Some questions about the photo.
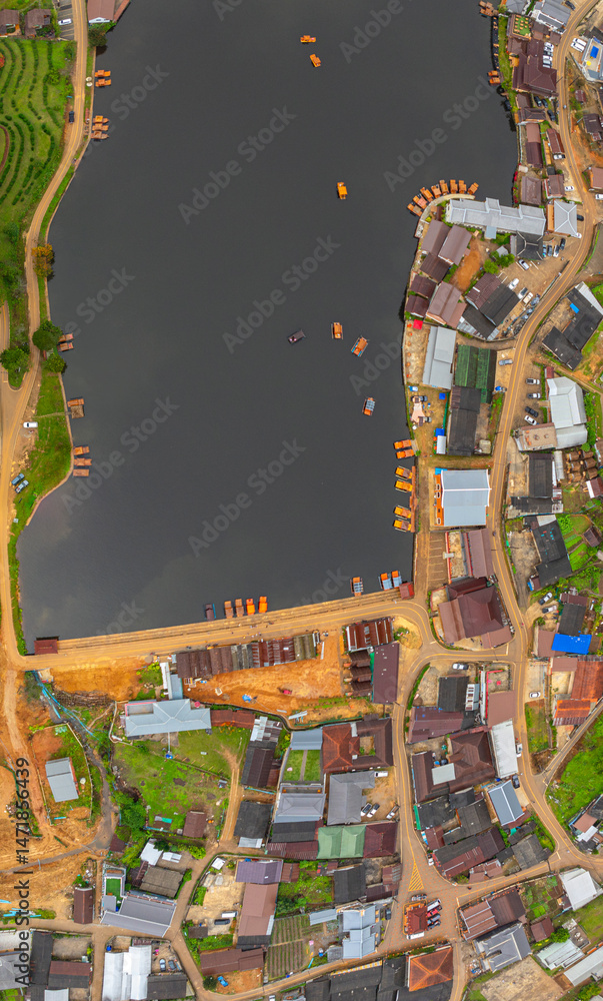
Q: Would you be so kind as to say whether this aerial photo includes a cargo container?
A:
No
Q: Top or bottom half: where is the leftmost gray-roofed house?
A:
bottom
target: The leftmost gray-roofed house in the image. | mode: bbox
[0,948,30,991]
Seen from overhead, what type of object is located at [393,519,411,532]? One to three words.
boat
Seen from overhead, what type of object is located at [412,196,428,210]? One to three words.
boat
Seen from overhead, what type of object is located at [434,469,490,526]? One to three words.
building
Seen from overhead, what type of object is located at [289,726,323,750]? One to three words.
house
